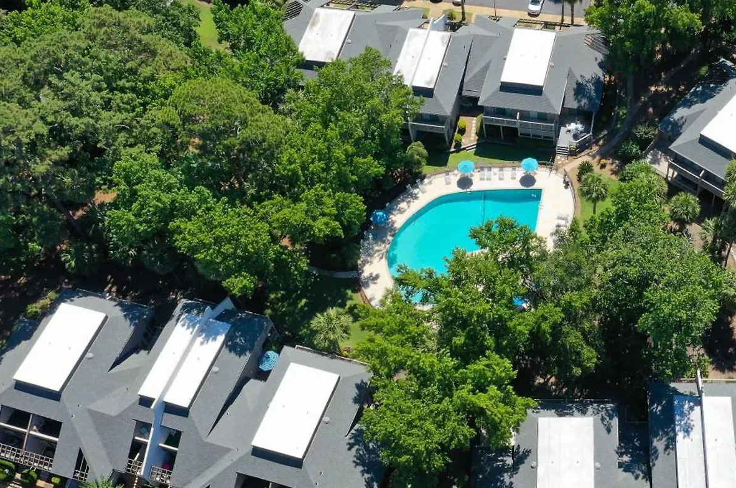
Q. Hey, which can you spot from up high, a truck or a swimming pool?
swimming pool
